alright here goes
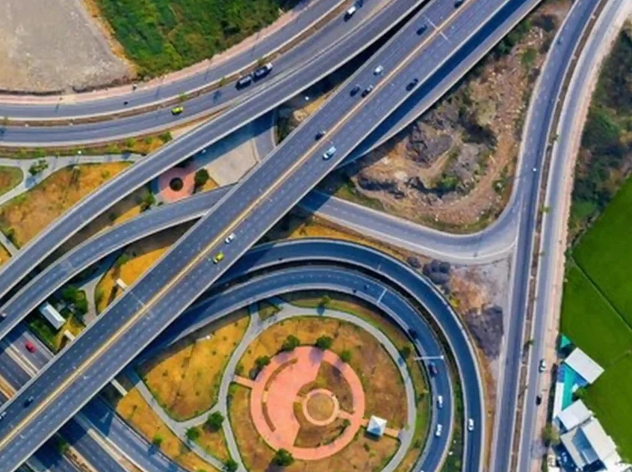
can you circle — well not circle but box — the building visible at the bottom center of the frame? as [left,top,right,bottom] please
[365,415,386,437]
